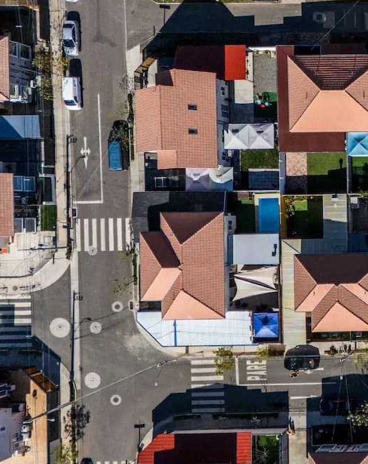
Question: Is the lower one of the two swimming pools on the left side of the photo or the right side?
right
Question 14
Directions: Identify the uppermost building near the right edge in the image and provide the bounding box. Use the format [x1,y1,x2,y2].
[288,54,368,133]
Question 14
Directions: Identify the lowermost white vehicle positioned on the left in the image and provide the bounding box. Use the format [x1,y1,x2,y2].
[62,75,85,112]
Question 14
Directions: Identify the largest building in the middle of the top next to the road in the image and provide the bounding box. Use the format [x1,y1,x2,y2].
[134,64,234,171]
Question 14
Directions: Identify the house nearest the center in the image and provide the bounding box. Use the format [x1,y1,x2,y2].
[138,211,241,321]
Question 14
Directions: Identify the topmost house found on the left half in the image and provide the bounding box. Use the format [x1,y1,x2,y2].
[0,34,36,103]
